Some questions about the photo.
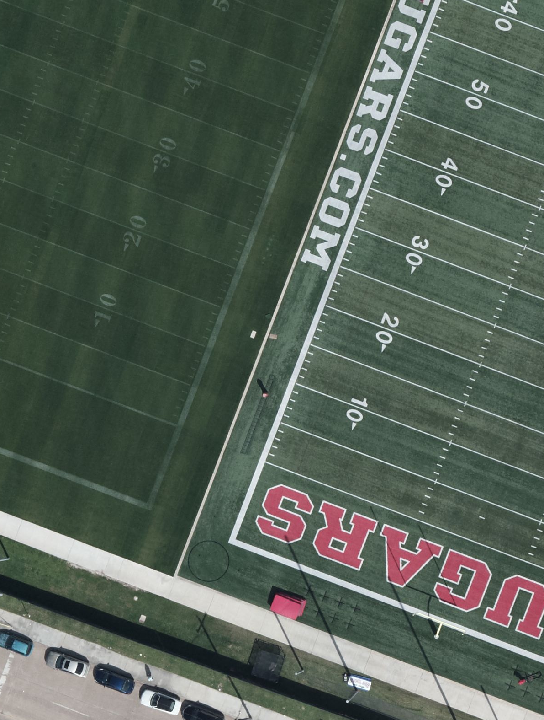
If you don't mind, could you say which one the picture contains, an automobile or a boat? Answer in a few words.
automobile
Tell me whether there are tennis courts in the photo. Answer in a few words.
No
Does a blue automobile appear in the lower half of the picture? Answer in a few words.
Yes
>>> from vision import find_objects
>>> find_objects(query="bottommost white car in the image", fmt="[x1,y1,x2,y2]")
[139,689,182,715]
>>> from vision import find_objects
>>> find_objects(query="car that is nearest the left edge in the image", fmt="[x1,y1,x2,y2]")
[0,632,33,658]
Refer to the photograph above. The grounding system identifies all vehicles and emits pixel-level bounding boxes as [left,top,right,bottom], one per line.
[0,632,33,658]
[180,703,226,720]
[44,650,91,679]
[92,666,135,694]
[139,689,182,715]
